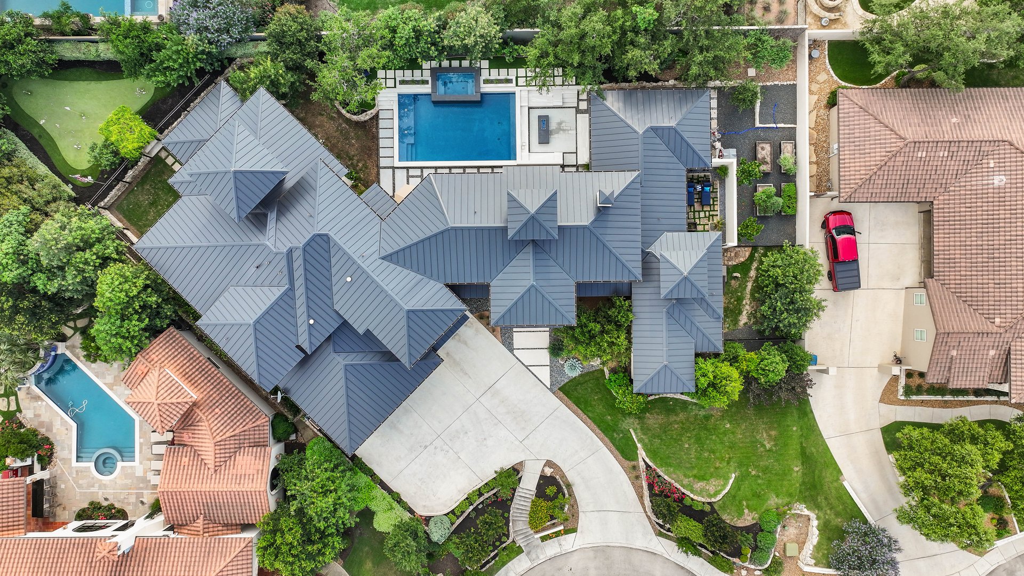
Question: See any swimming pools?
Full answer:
Yes, there's a swimming pool down there.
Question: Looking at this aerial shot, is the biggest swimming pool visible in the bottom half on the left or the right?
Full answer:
The biggest swimming pool visible in the bottom half appears in the left half of the scene.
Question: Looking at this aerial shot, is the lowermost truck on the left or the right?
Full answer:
The lowermost truck is on the right side of the image.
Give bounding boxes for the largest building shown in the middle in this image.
[132,78,725,456]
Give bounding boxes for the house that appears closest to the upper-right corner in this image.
[826,87,1024,403]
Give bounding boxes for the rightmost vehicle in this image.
[819,210,860,293]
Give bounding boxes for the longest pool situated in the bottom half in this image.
[22,341,139,466]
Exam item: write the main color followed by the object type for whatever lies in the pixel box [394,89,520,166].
blue swimming pool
